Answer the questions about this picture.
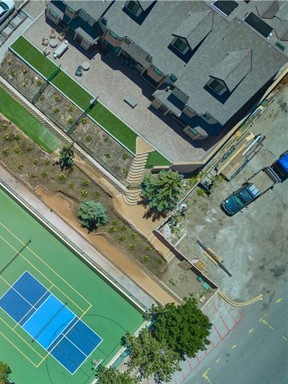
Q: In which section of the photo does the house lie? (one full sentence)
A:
The house sits in the top section of the image.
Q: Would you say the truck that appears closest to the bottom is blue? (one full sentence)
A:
Yes, the truck that appears closest to the bottom is blue.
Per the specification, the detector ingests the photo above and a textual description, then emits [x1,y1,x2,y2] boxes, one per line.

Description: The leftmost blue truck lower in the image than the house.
[218,182,261,214]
